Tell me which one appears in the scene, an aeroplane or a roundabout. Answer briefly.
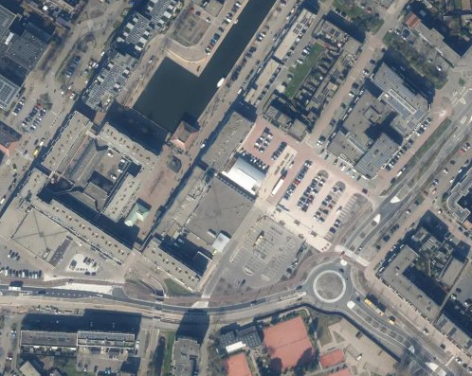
roundabout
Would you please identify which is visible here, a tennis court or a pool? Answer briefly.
tennis court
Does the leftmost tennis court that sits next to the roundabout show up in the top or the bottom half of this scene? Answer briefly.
bottom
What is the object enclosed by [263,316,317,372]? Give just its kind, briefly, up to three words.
tennis court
